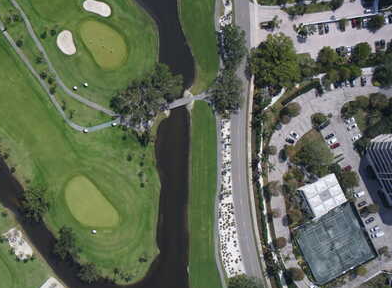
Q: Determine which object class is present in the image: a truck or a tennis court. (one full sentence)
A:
There is a tennis court in the scene.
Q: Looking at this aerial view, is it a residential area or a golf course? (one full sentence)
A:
What you see here is a golf course.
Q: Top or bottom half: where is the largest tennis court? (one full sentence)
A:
The largest tennis court is in the bottom half of the image.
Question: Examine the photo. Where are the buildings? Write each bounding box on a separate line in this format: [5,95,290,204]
[296,172,347,217]
[367,135,392,196]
